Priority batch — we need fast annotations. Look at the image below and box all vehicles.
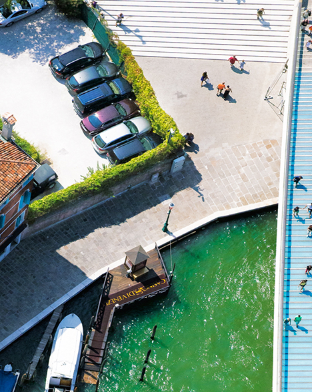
[106,133,159,164]
[30,163,67,196]
[81,98,138,133]
[93,118,147,151]
[67,60,120,92]
[47,44,105,80]
[74,77,130,112]
[0,0,45,28]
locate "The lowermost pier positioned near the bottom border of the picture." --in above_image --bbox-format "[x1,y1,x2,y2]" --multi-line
[82,242,172,389]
